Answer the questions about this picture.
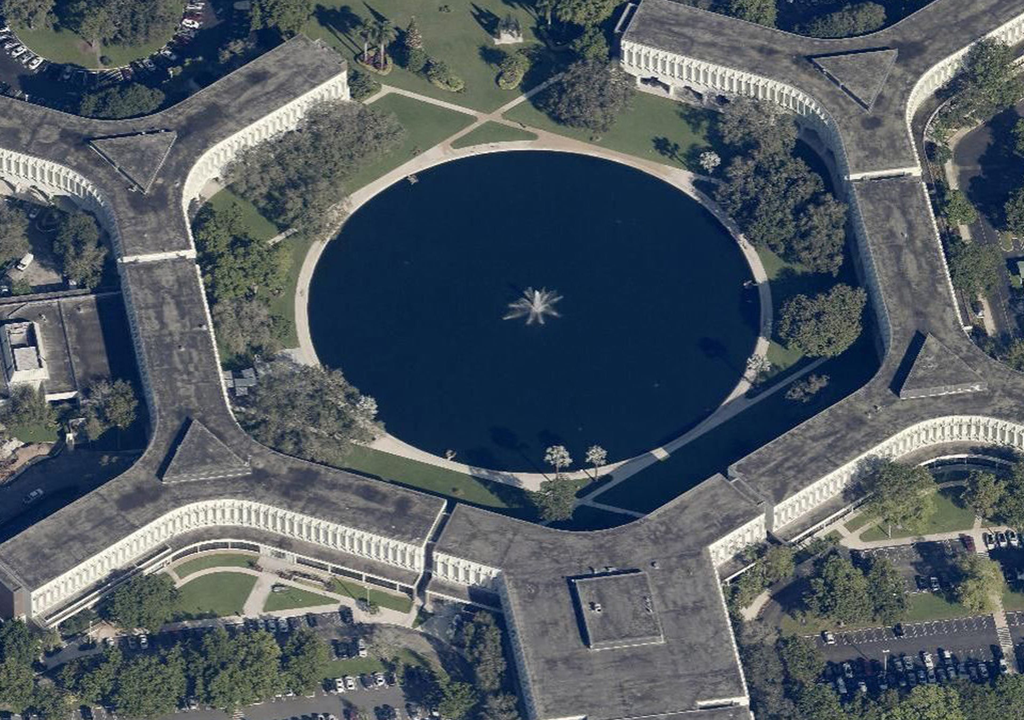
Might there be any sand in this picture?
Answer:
No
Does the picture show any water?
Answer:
Yes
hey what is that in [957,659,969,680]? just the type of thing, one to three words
vehicle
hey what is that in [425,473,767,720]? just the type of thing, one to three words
building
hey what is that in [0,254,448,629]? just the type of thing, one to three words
building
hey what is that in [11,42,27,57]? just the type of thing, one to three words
car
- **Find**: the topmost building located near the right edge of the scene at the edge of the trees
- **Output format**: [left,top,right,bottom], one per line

[621,0,1024,211]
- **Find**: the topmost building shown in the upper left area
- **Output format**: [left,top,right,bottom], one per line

[0,33,355,294]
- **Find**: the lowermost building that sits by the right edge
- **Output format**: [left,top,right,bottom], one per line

[728,172,1024,550]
